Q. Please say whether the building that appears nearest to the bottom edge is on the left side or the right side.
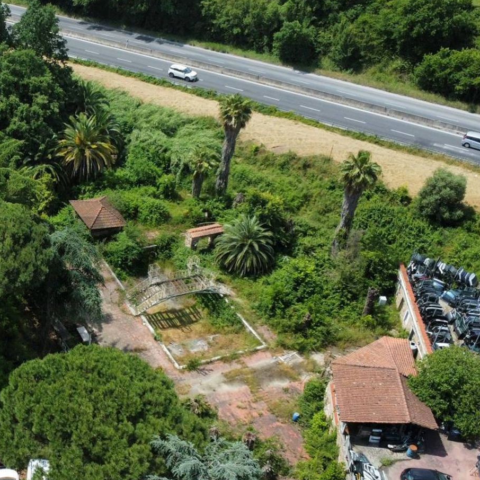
right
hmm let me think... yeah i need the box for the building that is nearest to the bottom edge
[322,335,437,451]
